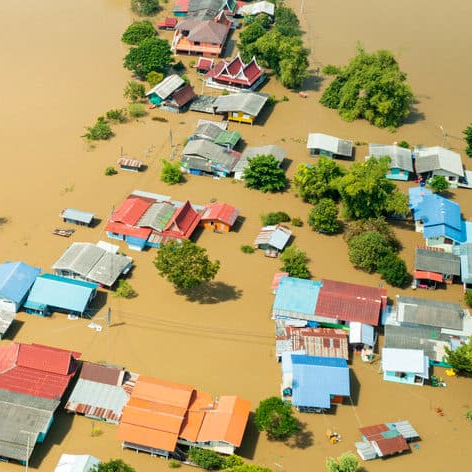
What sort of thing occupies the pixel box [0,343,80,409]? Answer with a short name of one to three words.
house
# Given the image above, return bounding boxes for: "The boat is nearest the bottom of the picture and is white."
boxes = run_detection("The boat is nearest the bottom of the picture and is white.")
[361,346,375,364]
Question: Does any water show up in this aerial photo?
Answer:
Yes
